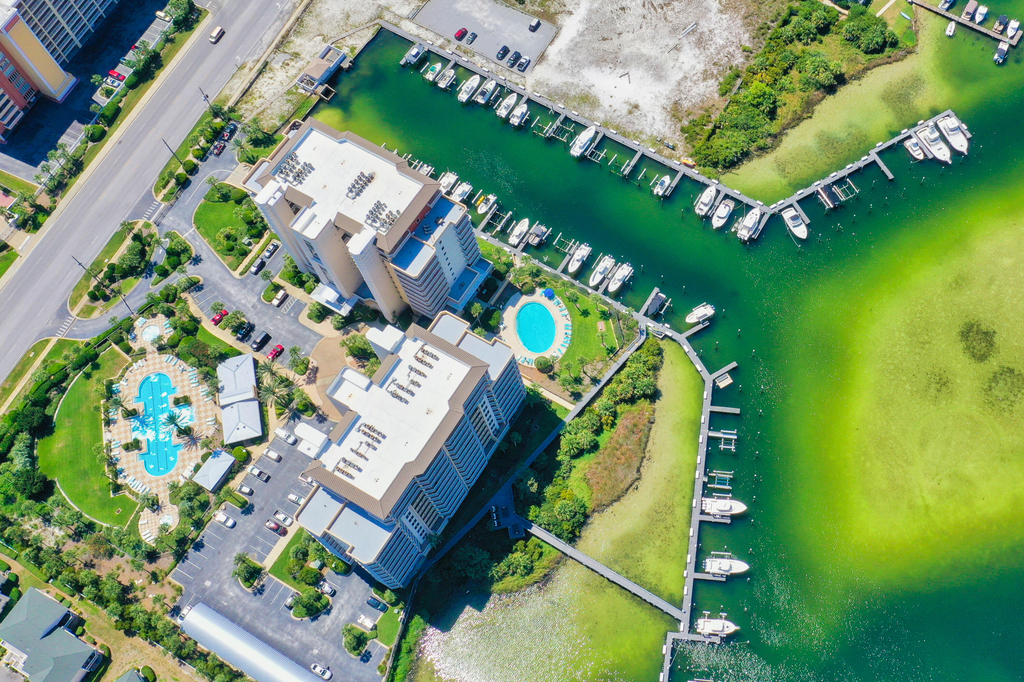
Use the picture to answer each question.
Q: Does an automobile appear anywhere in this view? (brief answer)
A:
Yes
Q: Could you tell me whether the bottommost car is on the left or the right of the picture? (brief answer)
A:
left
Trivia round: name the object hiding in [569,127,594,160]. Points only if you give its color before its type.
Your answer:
white boat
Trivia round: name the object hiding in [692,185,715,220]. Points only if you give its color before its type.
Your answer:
white boat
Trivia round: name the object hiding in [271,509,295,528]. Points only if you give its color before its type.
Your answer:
white vehicle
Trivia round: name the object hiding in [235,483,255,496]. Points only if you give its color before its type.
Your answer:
white vehicle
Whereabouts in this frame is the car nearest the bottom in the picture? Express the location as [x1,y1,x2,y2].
[310,662,333,682]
